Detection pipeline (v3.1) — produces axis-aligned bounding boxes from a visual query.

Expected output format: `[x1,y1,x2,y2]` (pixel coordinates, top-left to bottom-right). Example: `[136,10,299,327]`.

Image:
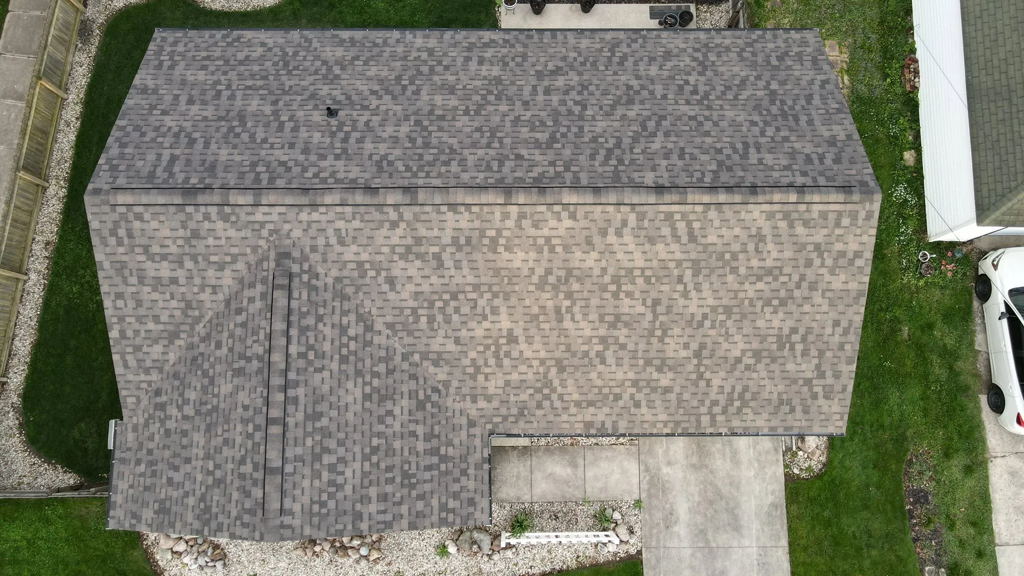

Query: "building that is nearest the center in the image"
[82,28,882,546]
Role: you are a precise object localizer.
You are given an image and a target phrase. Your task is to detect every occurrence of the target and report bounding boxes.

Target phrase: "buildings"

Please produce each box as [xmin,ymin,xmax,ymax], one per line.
[82,28,882,546]
[914,0,1024,244]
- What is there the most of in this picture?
buildings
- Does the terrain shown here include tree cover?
No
